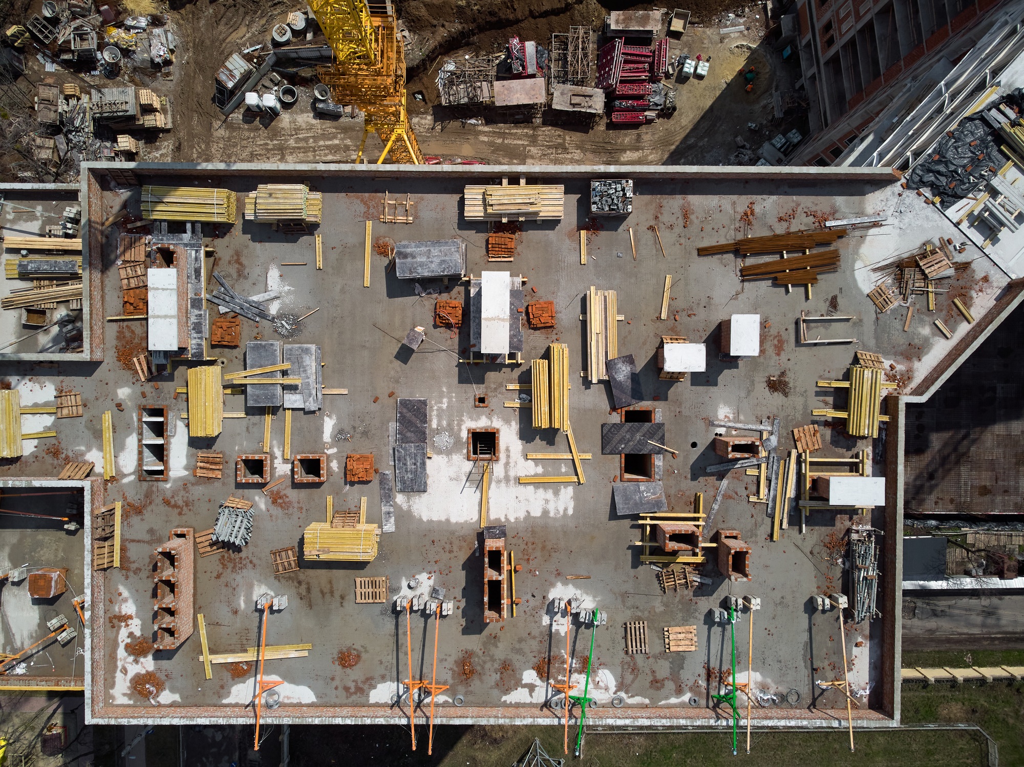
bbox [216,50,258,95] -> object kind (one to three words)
shed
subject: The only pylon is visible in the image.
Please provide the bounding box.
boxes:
[512,738,564,767]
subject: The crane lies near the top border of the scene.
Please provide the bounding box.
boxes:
[306,0,424,163]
